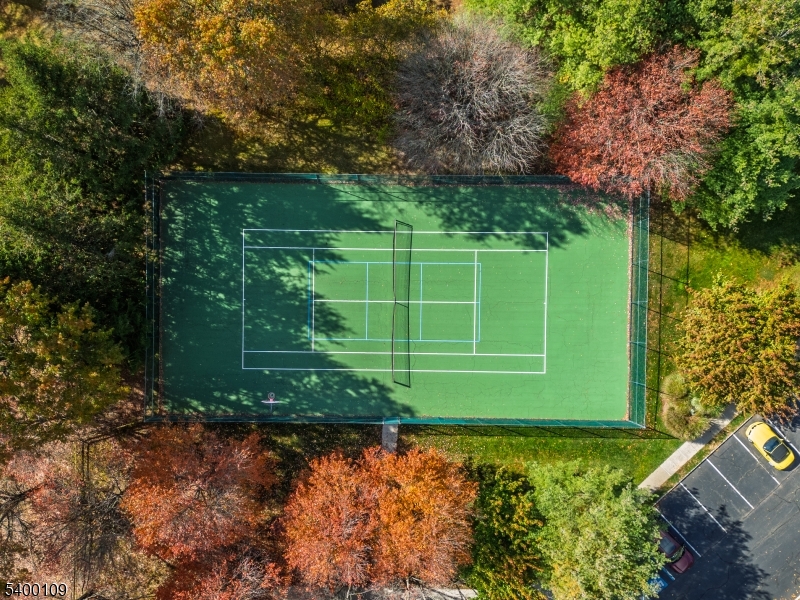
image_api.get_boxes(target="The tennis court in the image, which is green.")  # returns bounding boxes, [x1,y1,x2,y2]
[159,180,634,420]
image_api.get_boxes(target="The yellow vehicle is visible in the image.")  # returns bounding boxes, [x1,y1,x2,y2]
[743,420,791,470]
